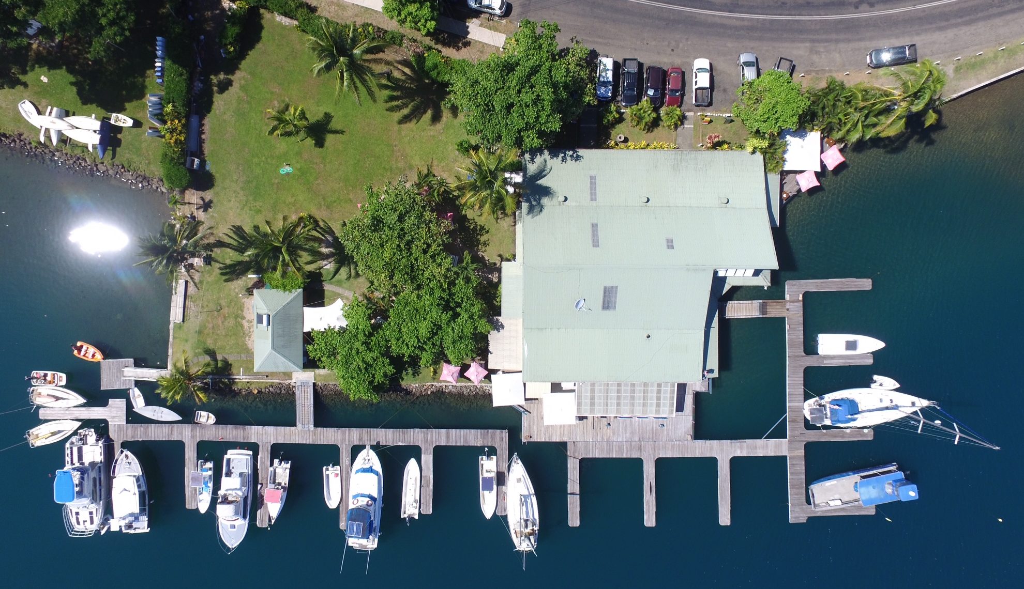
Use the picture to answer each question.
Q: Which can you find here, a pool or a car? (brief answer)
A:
car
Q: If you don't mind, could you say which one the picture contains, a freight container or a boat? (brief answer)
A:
boat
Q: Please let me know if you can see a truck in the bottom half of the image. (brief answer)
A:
No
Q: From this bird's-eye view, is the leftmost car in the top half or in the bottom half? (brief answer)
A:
top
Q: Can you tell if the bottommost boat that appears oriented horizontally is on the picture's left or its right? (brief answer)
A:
right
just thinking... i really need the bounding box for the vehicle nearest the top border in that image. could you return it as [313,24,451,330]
[463,0,510,20]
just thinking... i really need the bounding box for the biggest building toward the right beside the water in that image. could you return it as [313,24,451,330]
[488,149,780,383]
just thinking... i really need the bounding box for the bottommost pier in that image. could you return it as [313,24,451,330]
[109,424,509,529]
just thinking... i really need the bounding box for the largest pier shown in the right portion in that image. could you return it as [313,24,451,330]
[561,274,875,526]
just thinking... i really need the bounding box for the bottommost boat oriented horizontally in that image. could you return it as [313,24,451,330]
[807,464,918,512]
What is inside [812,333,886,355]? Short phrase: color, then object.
white boat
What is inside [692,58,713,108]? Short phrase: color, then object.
white truck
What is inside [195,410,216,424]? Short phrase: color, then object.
white boat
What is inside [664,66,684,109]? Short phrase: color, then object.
red car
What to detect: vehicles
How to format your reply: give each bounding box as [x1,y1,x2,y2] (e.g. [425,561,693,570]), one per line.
[864,44,919,70]
[463,0,510,20]
[737,52,760,103]
[618,57,640,108]
[643,64,664,111]
[664,66,684,109]
[594,53,615,102]
[692,58,713,108]
[773,56,795,86]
